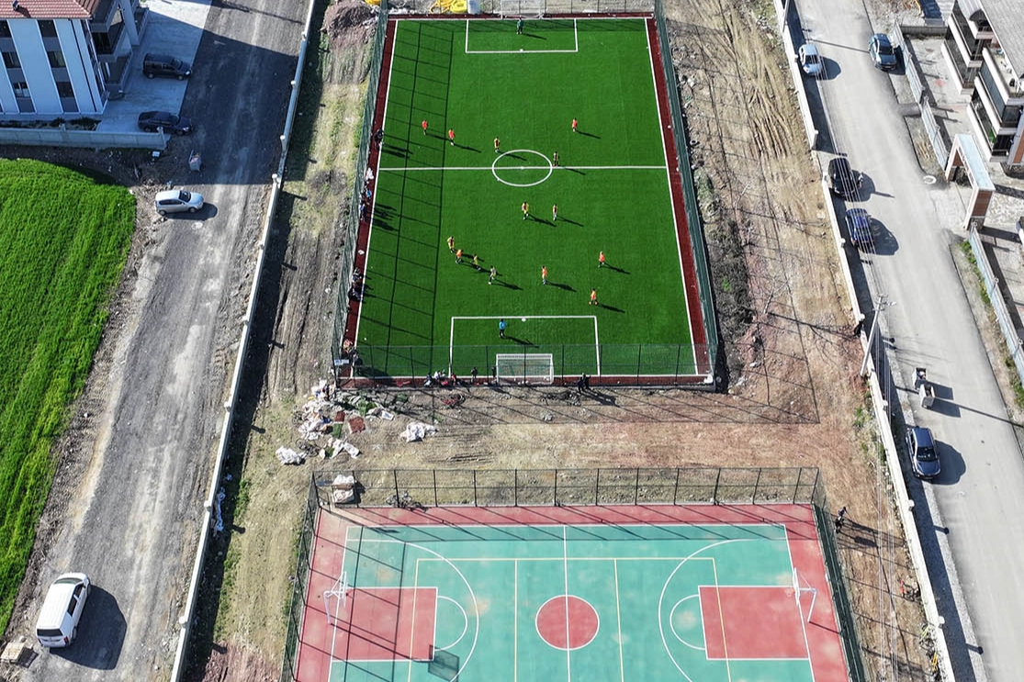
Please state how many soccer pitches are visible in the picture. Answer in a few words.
one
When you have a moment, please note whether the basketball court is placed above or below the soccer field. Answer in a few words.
below it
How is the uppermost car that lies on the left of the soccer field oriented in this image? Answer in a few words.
from side to side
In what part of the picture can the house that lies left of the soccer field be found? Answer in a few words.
top left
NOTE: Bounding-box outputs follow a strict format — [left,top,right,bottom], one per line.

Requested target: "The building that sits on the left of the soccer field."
[0,0,148,113]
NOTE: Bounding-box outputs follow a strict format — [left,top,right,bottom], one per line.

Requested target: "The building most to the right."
[935,0,1024,182]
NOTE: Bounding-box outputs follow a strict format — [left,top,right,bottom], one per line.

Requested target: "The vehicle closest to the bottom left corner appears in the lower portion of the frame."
[35,580,89,648]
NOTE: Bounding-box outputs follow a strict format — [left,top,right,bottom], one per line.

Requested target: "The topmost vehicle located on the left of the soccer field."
[142,53,194,79]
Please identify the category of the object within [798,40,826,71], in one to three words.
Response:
car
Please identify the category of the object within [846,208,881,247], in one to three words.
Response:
car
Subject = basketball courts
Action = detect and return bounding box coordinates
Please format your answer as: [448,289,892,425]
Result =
[293,502,850,682]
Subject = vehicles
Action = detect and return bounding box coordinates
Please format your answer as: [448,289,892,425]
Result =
[798,40,826,71]
[153,188,208,215]
[142,53,194,79]
[828,153,860,195]
[35,580,89,648]
[906,422,946,475]
[138,109,194,134]
[846,208,881,247]
[871,29,900,63]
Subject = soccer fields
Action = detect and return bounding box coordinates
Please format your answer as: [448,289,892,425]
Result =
[334,12,717,389]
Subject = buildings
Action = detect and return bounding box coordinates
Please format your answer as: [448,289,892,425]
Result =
[935,0,1024,182]
[0,0,148,113]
